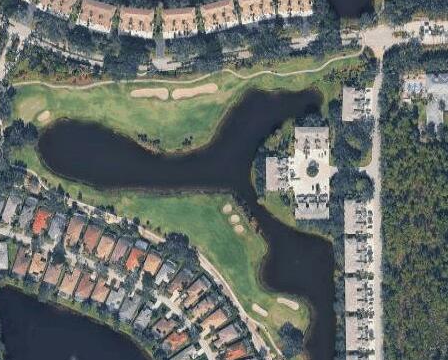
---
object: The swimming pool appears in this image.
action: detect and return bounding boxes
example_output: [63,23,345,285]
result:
[402,75,428,97]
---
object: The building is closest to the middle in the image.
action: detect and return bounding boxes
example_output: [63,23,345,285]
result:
[267,158,287,191]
